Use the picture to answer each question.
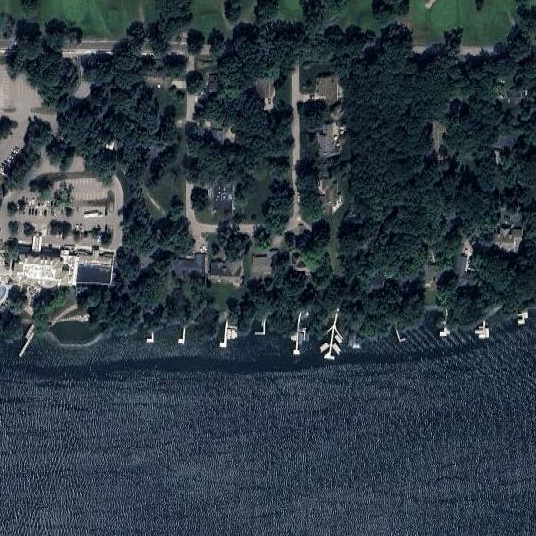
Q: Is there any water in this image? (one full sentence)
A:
Yes, there is water in the image.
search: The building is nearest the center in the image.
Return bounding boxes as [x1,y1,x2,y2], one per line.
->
[253,256,272,275]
